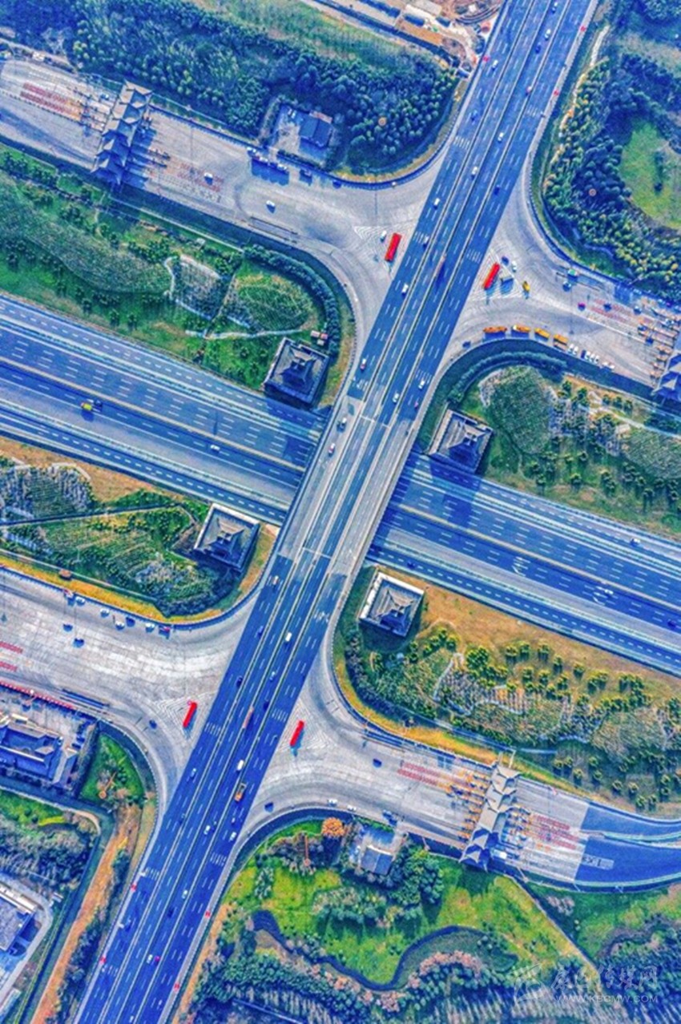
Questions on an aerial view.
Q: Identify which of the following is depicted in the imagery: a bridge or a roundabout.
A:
bridge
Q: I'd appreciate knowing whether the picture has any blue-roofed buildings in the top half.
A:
Yes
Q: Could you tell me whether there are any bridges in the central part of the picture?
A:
Yes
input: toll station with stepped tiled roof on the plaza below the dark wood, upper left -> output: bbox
[83,70,159,189]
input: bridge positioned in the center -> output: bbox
[280,416,409,563]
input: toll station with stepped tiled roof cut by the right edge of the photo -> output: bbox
[630,289,681,403]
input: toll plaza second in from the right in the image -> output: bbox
[434,760,540,878]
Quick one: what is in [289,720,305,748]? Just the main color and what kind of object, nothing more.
red vehicle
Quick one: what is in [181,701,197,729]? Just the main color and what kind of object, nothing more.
red vehicle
